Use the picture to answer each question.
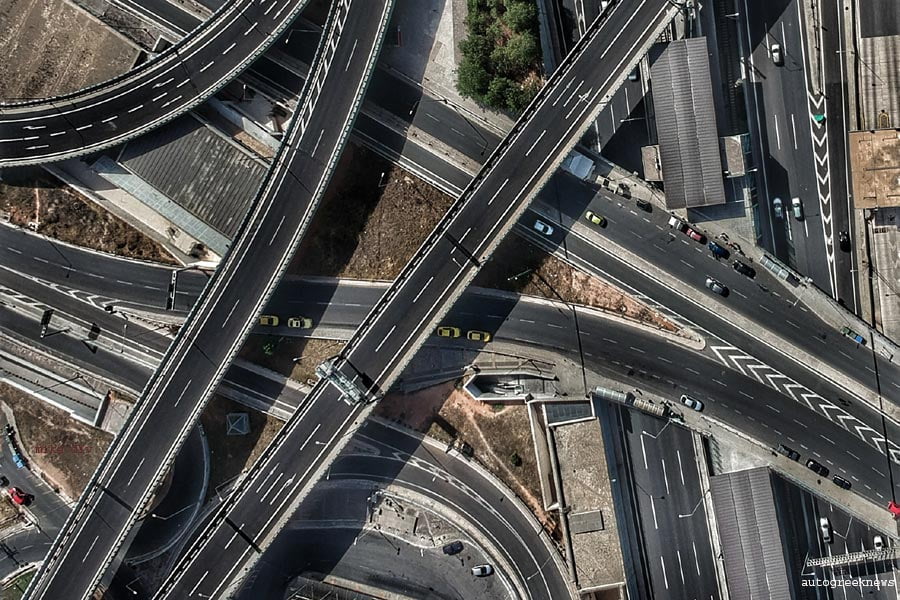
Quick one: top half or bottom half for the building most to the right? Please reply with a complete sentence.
It is in the top half that the building most to the right appears.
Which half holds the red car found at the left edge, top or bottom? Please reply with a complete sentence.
It is in the bottom half that the red car found at the left edge appears.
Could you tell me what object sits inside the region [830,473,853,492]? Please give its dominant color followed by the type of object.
black car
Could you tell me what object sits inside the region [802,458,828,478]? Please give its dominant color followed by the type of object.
black car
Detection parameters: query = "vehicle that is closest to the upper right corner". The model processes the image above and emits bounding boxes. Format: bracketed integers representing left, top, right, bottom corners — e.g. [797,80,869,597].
[769,41,782,65]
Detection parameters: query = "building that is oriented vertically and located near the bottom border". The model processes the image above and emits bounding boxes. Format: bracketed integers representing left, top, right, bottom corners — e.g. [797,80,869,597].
[541,395,626,593]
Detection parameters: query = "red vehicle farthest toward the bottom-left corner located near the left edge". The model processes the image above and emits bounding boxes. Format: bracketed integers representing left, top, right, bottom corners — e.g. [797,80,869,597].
[4,487,29,508]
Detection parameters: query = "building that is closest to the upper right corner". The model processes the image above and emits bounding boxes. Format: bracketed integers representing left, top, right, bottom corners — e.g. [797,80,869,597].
[849,129,900,209]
